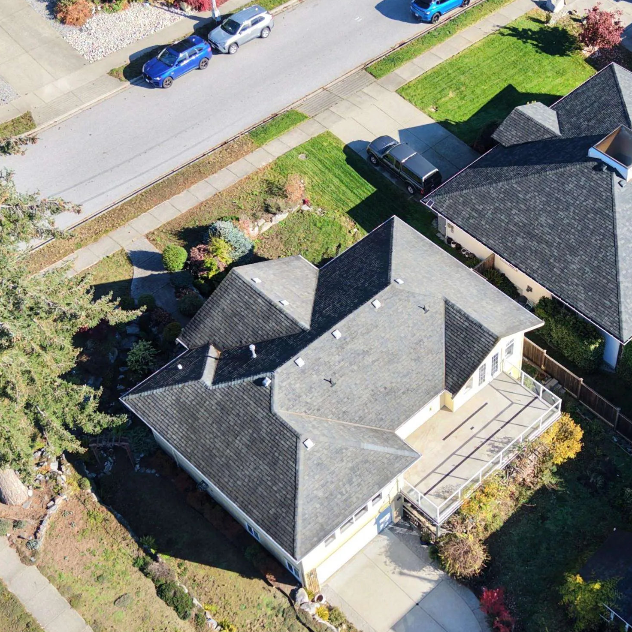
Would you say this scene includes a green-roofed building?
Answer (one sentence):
No, no green-roofed building is visible in the view.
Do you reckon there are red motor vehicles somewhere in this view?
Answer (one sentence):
No, no red motor vehicle is visible in the view.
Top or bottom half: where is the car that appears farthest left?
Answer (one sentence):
The car that appears farthest left is in the top half of the image.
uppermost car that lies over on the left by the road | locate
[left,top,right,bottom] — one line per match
[205,5,273,55]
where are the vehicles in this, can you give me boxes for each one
[409,0,471,24]
[138,36,212,89]
[365,135,442,193]
[205,5,273,55]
